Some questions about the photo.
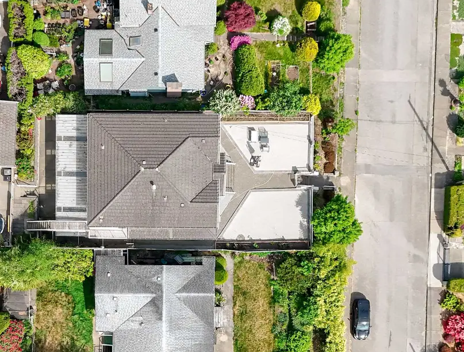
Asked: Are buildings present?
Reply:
Yes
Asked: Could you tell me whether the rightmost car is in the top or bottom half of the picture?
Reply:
bottom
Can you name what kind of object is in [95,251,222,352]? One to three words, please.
house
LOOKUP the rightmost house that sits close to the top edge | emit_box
[82,0,217,106]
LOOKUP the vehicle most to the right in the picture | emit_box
[350,297,372,341]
